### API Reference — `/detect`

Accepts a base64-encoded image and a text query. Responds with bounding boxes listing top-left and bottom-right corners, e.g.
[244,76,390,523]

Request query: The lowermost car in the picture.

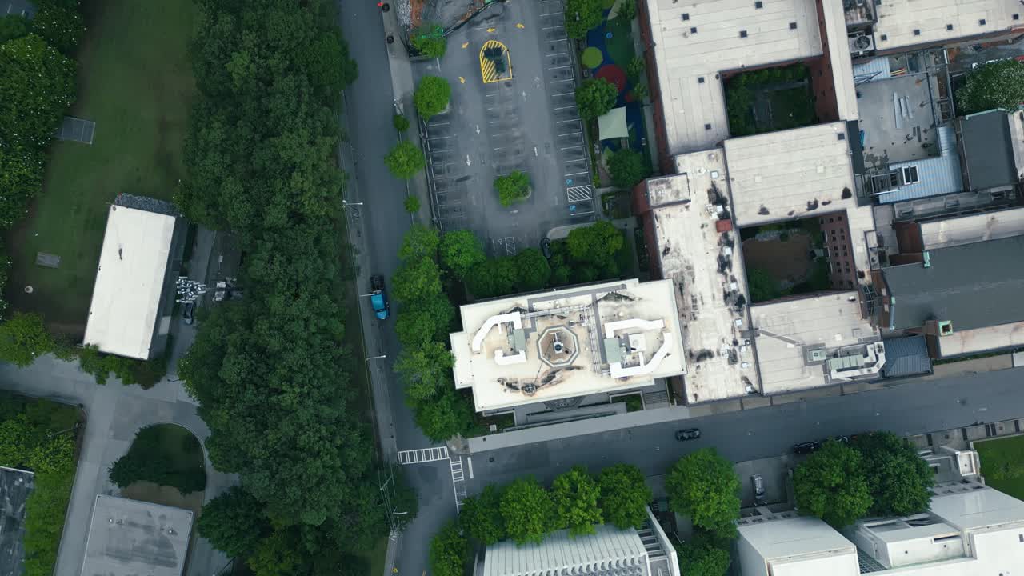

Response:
[751,474,765,501]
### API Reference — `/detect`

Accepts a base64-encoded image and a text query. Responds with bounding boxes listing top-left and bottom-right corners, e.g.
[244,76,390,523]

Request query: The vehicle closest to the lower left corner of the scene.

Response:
[183,302,196,324]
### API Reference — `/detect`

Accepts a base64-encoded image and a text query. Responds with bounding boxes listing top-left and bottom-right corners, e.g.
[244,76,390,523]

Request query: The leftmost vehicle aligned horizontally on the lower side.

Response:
[675,428,701,441]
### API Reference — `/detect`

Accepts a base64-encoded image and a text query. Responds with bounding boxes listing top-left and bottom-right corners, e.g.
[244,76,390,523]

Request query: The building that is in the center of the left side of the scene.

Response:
[83,205,193,358]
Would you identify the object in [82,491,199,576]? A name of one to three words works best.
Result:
building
